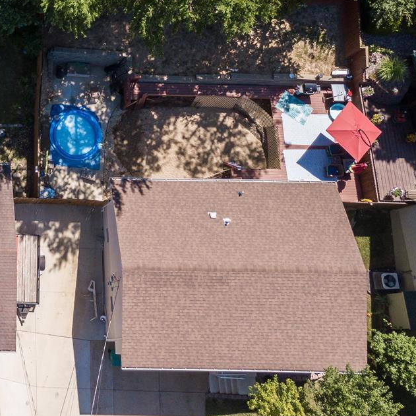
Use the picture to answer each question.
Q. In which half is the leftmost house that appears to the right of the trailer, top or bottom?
bottom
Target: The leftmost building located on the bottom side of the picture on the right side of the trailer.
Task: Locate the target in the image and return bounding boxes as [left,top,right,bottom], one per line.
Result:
[100,178,370,374]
